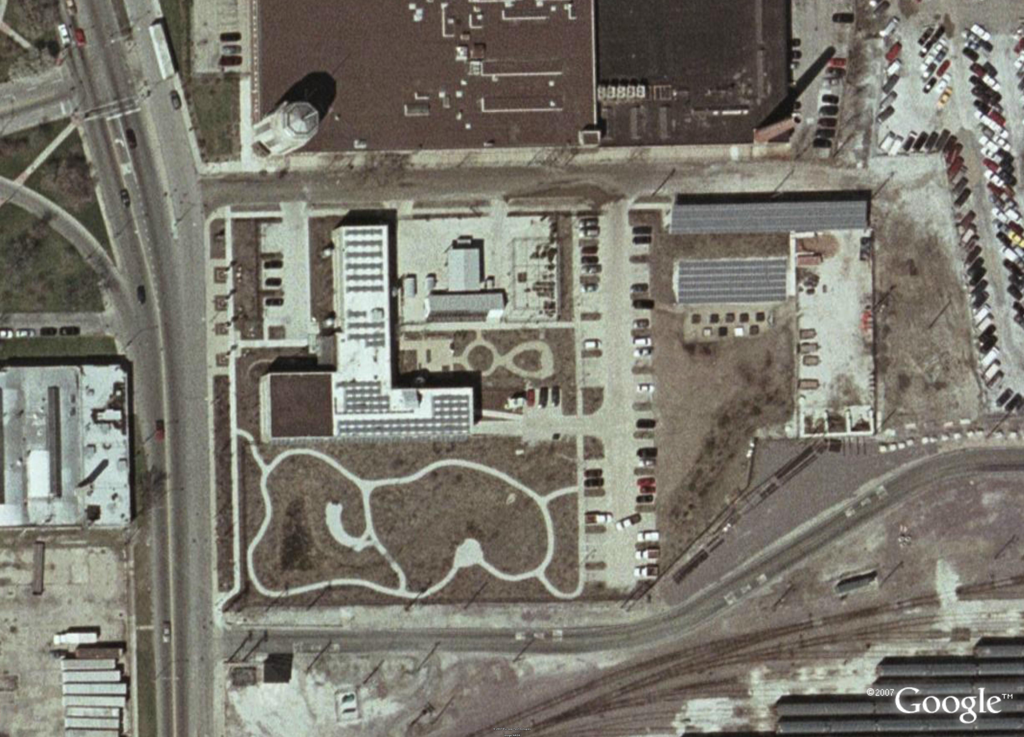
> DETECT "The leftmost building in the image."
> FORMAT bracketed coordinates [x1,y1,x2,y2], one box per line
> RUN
[0,365,83,528]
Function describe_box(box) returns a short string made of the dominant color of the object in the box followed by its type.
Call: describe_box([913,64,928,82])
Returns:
white car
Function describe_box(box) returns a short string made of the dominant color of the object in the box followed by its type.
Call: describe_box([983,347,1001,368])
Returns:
white vehicle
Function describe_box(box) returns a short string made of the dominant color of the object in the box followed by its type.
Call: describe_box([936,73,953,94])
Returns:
white vehicle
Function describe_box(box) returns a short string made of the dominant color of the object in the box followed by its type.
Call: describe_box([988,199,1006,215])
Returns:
gray car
